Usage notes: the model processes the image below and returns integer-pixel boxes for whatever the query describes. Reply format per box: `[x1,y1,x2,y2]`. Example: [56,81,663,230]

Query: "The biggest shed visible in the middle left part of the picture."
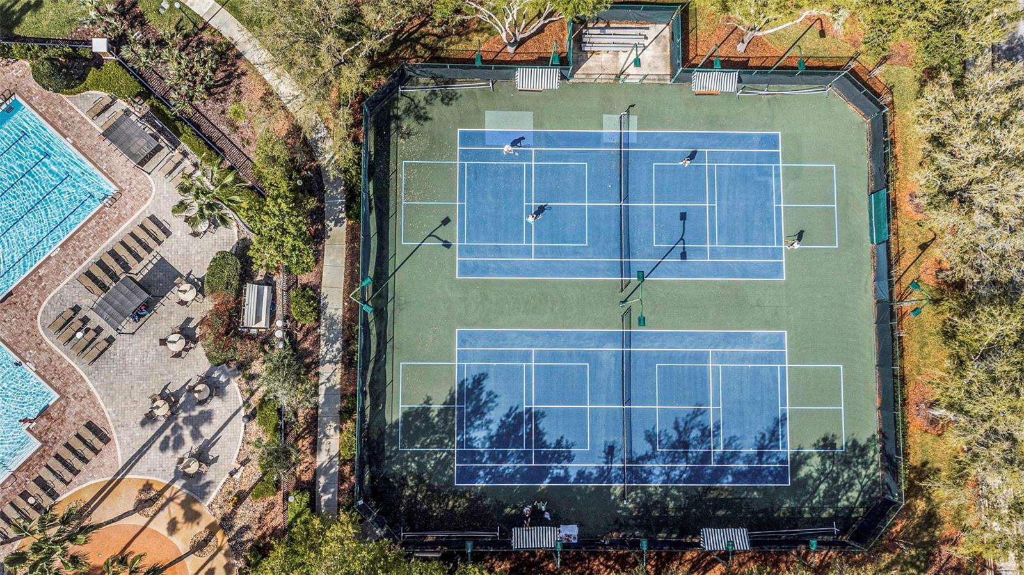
[241,284,277,332]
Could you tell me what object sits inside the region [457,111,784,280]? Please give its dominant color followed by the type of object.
blue tennis court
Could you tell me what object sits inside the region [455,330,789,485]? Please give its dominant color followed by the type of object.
blue tennis court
